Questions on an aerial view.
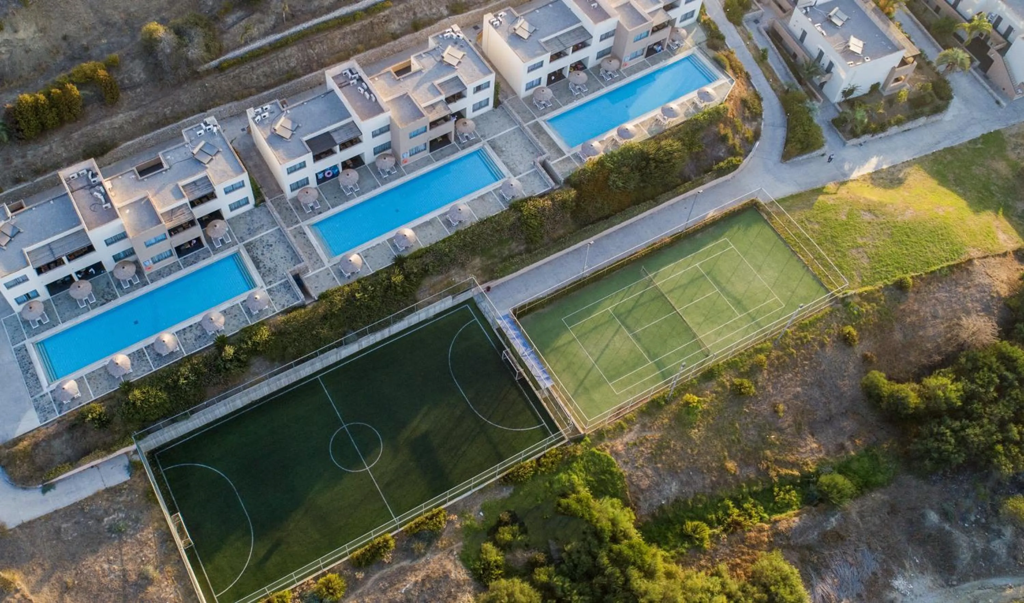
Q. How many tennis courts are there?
1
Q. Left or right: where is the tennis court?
right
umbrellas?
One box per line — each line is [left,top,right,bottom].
[694,87,716,107]
[244,290,269,312]
[206,221,230,242]
[106,354,133,377]
[455,119,476,139]
[338,170,361,191]
[579,141,601,162]
[112,261,137,283]
[53,379,82,403]
[20,301,46,323]
[338,254,363,276]
[374,154,397,175]
[668,27,687,47]
[152,332,179,355]
[392,229,416,251]
[659,103,681,124]
[567,71,588,92]
[532,87,553,108]
[199,311,225,333]
[615,124,637,144]
[599,57,620,77]
[68,280,94,302]
[297,188,321,209]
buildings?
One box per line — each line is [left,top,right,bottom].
[480,0,701,97]
[0,116,255,311]
[766,0,924,98]
[243,23,494,199]
[942,0,1024,100]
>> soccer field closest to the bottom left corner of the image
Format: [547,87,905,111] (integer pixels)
[147,302,565,603]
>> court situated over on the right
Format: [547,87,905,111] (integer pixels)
[520,208,828,420]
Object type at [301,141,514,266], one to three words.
swimming pool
